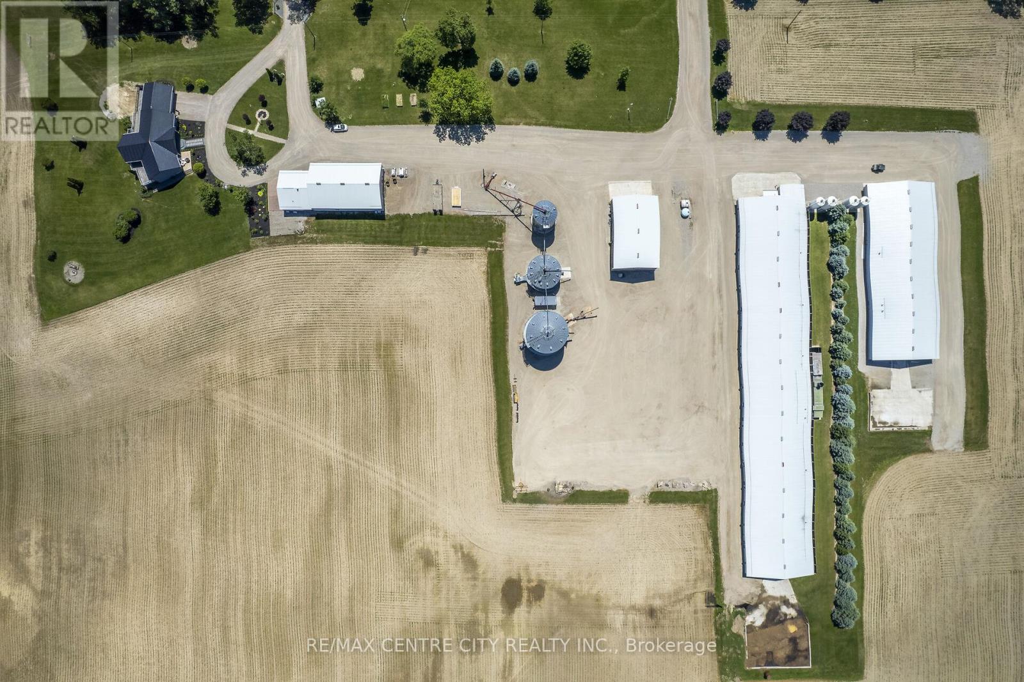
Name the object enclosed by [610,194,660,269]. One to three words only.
shed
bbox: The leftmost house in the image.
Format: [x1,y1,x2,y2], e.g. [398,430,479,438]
[118,82,185,193]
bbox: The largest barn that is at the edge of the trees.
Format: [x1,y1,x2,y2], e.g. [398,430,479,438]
[735,184,814,579]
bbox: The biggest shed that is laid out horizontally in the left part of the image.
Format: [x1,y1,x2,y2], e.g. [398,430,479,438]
[277,163,383,211]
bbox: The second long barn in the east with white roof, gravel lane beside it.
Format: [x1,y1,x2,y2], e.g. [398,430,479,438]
[860,180,940,360]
